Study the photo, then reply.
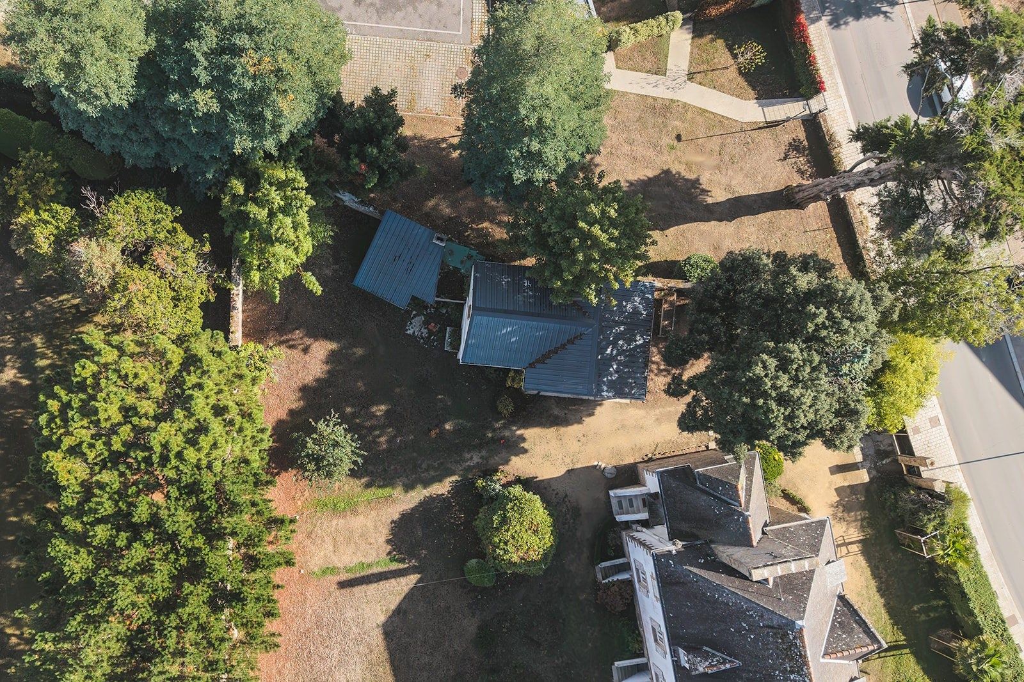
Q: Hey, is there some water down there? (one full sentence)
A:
No, there is no water in the image.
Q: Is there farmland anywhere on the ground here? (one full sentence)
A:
No, farmland can't be seen anywhere here.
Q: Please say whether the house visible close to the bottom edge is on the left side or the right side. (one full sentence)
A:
The house visible close to the bottom edge is on the right side of the image.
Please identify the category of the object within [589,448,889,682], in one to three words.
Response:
house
